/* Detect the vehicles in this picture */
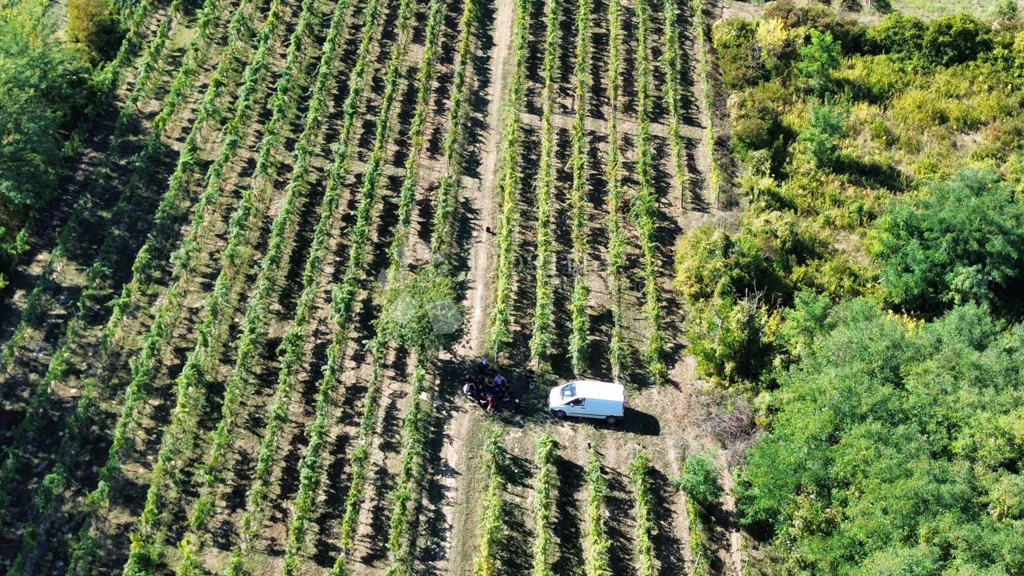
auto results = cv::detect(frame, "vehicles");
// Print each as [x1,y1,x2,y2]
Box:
[547,382,627,425]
